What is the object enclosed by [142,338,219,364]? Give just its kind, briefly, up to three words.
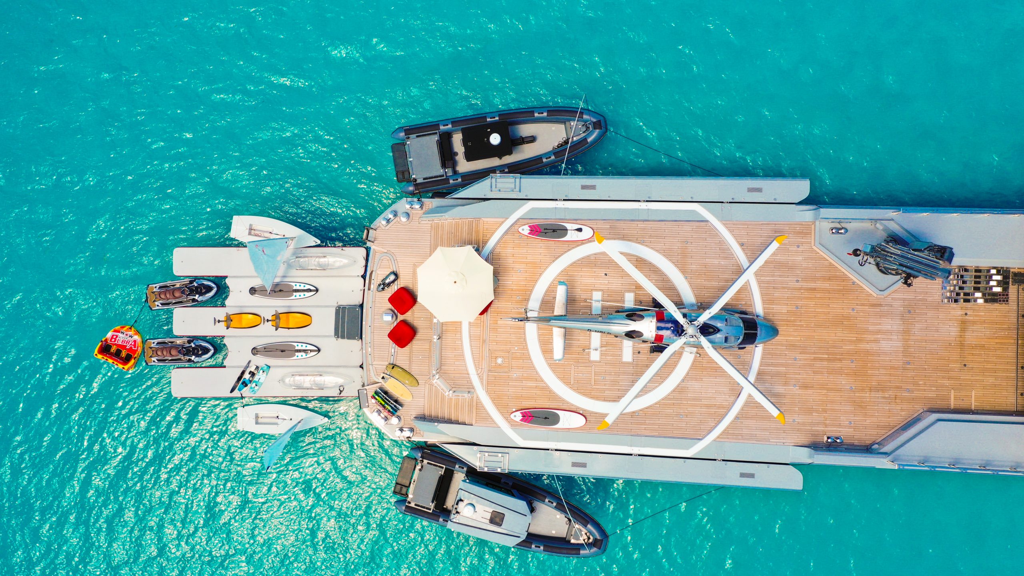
boat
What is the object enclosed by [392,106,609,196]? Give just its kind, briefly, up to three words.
boat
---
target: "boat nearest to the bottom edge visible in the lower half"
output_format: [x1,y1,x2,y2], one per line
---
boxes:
[395,445,610,550]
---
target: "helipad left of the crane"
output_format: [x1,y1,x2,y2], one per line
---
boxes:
[460,201,766,456]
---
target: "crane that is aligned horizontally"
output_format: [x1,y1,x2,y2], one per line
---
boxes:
[845,236,959,287]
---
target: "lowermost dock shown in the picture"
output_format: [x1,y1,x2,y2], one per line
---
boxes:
[172,367,364,397]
